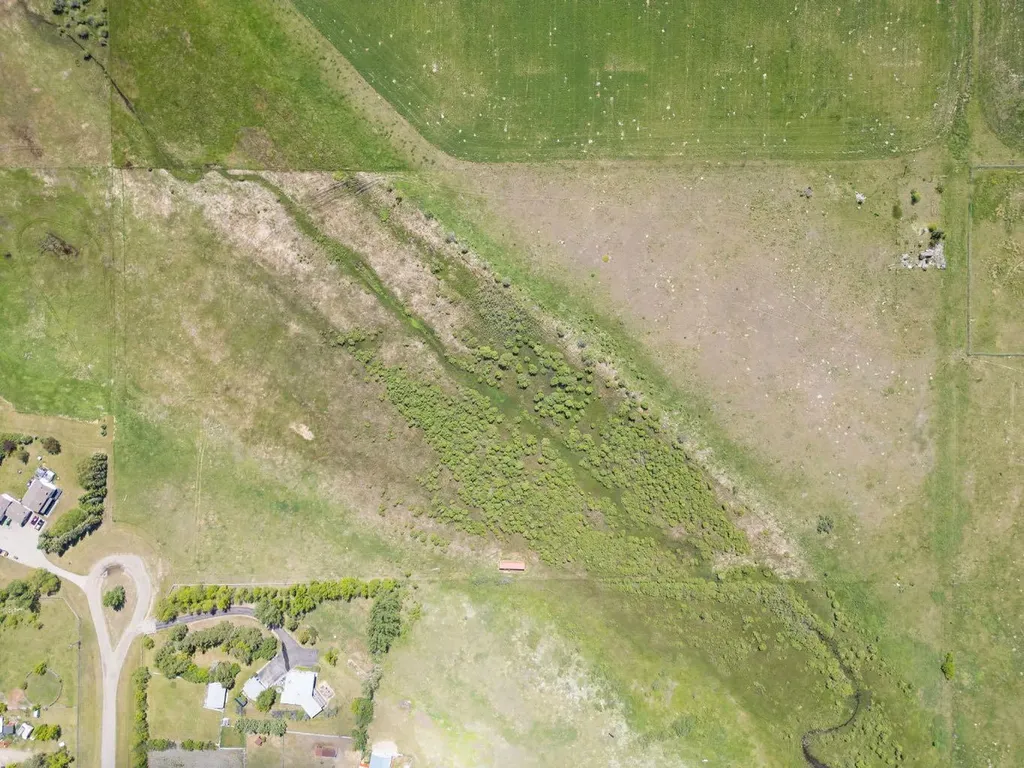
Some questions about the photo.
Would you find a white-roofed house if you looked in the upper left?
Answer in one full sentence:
No, I can find no white-roofed house in the upper left.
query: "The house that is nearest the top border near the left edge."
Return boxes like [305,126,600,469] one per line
[0,477,69,525]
